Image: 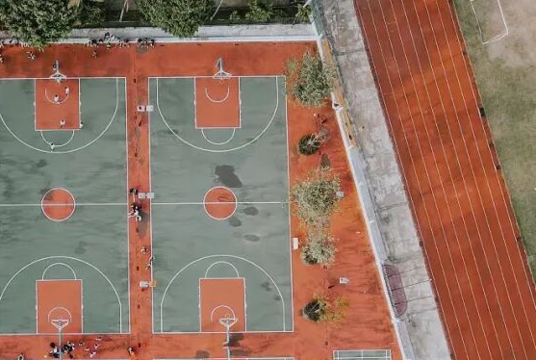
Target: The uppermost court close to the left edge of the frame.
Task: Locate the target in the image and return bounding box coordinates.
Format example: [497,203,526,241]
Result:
[0,77,130,335]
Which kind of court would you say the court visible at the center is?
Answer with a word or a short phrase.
basketball court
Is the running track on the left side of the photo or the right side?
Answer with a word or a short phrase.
right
